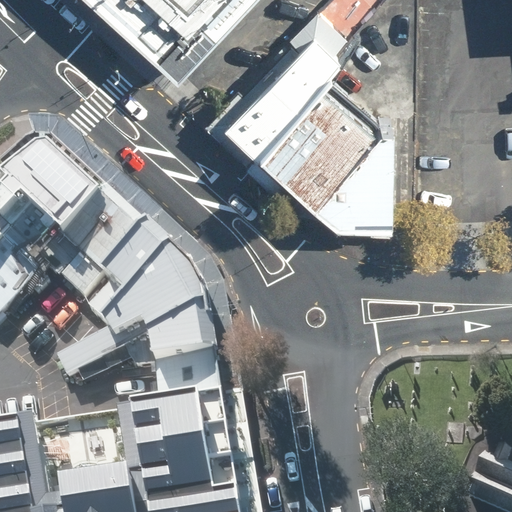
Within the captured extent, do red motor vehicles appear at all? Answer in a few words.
Yes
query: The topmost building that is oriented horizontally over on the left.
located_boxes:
[56,0,266,92]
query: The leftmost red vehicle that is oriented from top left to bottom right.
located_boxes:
[117,145,146,173]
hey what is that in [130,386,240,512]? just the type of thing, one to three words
building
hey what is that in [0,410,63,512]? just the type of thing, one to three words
house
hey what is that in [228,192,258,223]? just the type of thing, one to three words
car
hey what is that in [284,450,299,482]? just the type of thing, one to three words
car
